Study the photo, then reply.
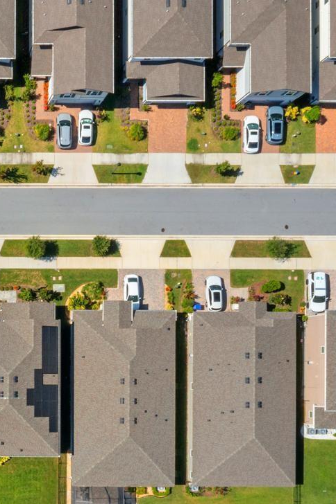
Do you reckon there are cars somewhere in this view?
Yes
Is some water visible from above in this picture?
No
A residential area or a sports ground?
residential area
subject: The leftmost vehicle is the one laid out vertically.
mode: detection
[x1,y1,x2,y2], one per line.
[56,111,75,149]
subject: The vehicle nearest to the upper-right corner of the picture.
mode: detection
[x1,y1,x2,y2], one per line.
[264,107,285,145]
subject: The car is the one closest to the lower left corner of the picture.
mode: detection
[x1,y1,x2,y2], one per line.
[122,274,141,310]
